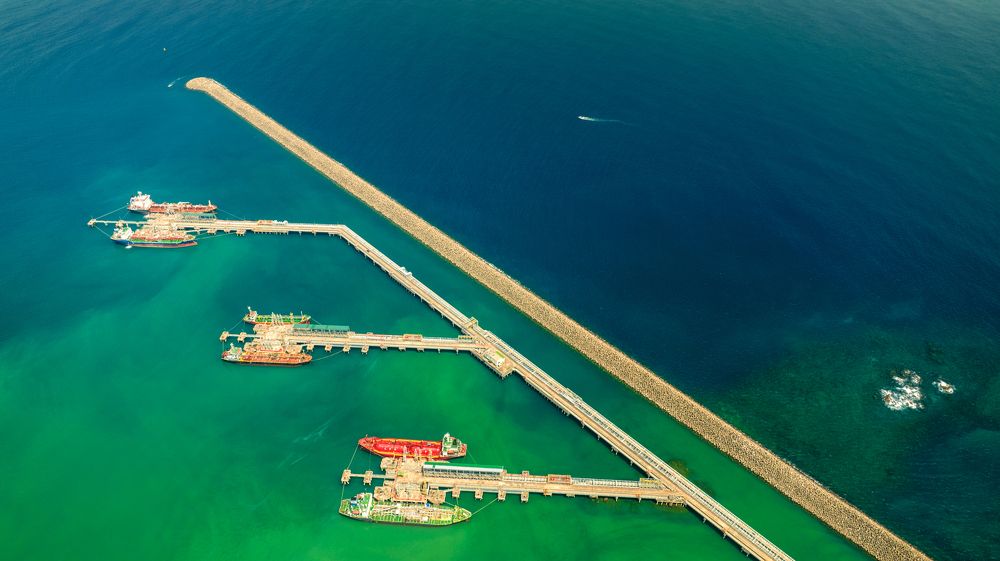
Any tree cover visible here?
No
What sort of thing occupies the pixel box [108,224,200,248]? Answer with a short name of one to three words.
ship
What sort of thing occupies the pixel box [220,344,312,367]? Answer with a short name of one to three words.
ship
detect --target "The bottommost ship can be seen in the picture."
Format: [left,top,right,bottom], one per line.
[340,500,472,528]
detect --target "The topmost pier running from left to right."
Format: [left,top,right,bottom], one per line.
[141,213,345,237]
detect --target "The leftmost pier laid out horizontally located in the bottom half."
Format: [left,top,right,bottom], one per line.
[250,324,476,357]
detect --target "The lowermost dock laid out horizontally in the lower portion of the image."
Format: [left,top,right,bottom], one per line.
[380,459,688,510]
